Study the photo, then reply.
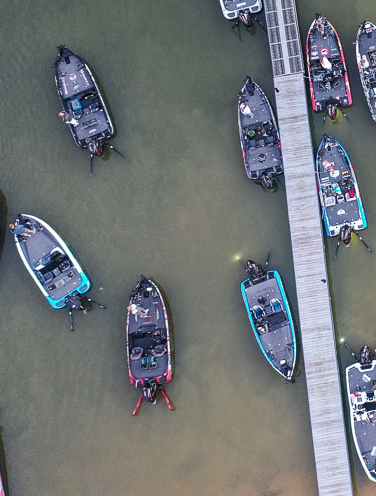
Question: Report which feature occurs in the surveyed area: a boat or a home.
boat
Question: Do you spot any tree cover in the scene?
No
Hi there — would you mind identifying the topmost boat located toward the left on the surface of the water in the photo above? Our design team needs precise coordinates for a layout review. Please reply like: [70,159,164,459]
[56,41,126,175]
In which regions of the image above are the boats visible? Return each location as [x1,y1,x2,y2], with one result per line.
[237,252,298,386]
[353,16,376,117]
[341,339,376,483]
[128,274,174,416]
[316,129,372,259]
[12,211,106,331]
[221,0,263,29]
[56,41,126,175]
[306,11,350,123]
[236,73,286,188]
